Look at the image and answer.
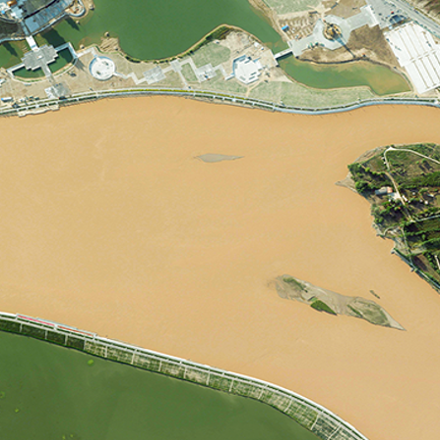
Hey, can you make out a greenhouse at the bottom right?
No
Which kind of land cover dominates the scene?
water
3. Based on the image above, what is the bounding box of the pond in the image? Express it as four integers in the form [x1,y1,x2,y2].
[279,57,411,95]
